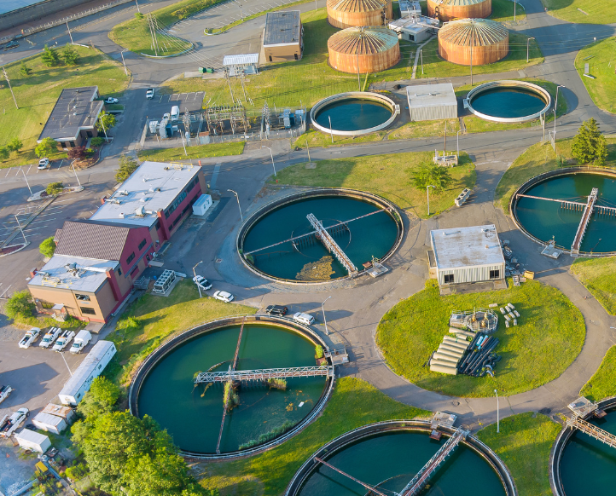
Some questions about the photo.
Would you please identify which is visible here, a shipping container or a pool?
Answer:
shipping container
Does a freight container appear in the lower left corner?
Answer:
Yes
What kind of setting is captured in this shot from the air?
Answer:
industrial area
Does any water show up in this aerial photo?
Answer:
Yes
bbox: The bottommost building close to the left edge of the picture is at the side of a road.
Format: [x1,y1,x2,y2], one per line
[23,159,208,327]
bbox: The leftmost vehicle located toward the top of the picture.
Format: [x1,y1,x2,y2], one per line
[35,153,52,168]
